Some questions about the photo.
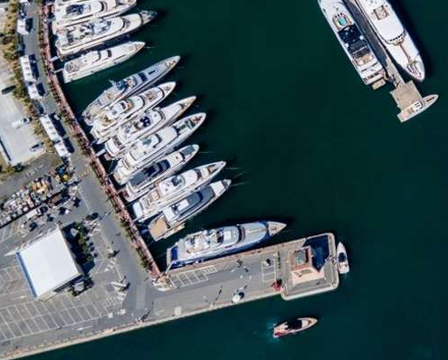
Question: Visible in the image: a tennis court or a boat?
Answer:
boat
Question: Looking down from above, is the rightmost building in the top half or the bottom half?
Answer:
bottom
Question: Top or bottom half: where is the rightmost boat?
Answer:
top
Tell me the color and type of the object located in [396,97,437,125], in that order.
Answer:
white boat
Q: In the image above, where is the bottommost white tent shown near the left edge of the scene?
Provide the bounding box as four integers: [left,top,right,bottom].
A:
[17,228,88,302]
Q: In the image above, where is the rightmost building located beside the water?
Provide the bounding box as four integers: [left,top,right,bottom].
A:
[286,245,324,286]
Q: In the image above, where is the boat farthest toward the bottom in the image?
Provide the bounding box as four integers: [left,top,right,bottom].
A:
[272,319,316,342]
